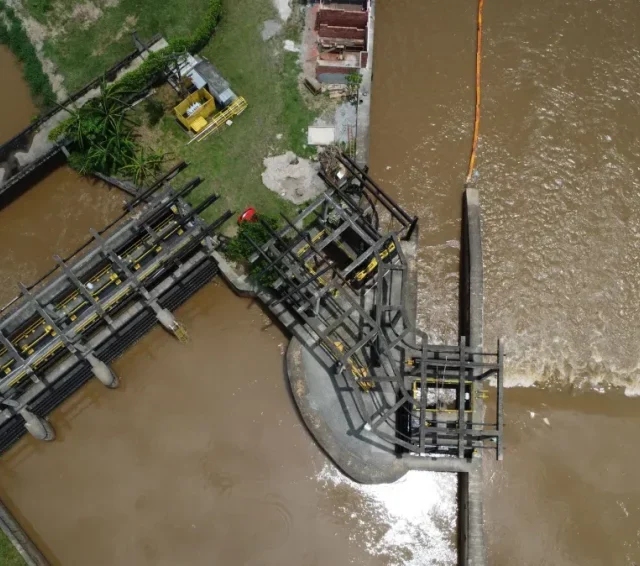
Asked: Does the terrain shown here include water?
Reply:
Yes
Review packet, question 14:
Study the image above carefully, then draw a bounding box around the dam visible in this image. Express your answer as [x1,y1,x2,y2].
[0,160,233,449]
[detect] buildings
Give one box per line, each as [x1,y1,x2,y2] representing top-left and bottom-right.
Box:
[192,57,243,118]
[316,0,368,77]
